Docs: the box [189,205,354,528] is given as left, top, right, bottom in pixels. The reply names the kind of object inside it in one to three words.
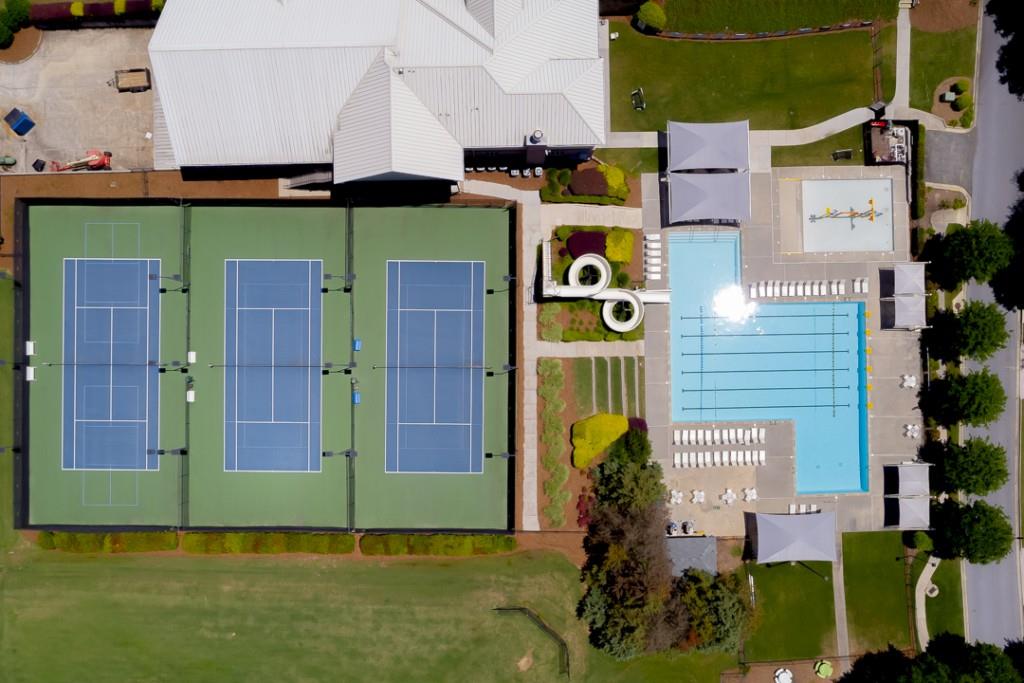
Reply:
tennis court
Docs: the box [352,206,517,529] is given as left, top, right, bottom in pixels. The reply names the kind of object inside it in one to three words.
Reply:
tennis court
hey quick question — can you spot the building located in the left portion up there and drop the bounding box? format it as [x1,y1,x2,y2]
[148,0,605,184]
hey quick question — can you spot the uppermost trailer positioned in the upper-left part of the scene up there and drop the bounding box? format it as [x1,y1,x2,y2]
[106,66,149,92]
